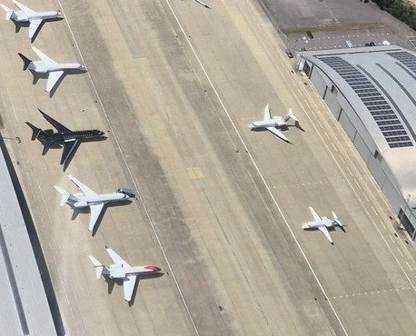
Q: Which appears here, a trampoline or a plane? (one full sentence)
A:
The image shows a plane.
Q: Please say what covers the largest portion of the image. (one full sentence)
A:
Most of the picture is covered by paved ground.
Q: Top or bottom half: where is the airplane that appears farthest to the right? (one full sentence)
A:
Seen from above, the airplane that appears farthest to the right lies in the bottom half of the view.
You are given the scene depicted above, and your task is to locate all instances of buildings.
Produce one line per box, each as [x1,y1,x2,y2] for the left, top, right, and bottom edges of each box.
[296,43,416,228]
[0,144,56,336]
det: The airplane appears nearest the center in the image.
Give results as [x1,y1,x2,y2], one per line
[248,106,305,142]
